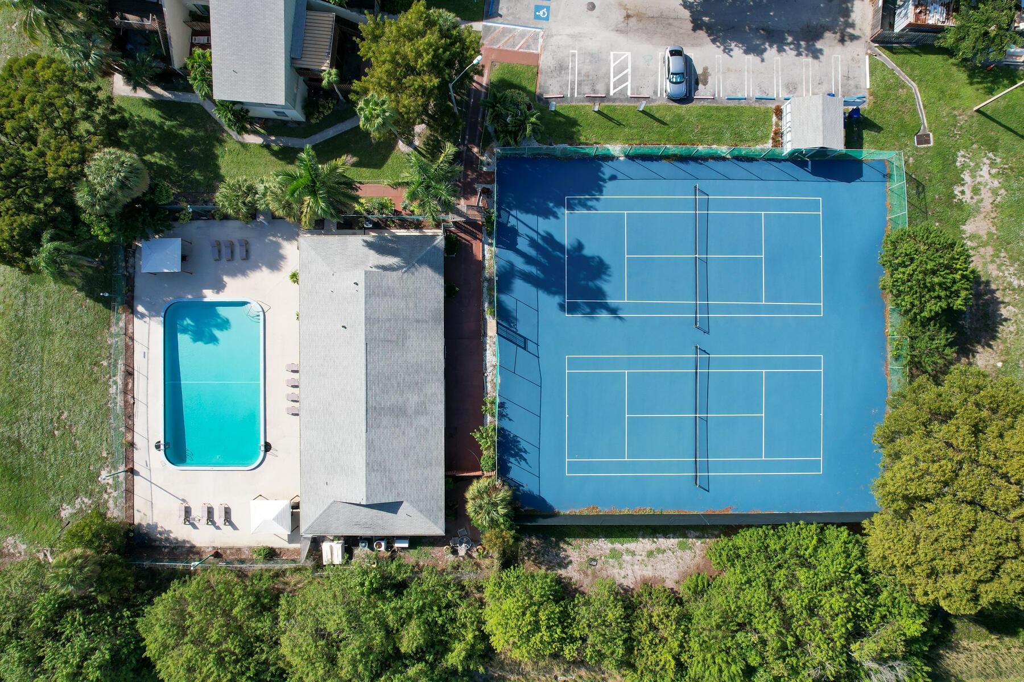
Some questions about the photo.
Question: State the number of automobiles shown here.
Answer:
one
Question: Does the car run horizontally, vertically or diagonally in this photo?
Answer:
vertically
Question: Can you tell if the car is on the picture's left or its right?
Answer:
right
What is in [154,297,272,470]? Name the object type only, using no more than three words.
swimming pool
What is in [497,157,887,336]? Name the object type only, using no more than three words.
tennis court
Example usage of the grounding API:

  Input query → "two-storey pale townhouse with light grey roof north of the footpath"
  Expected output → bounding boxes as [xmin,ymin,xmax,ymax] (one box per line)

[213,0,342,120]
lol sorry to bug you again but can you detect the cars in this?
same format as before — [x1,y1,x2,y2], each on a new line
[664,44,689,100]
